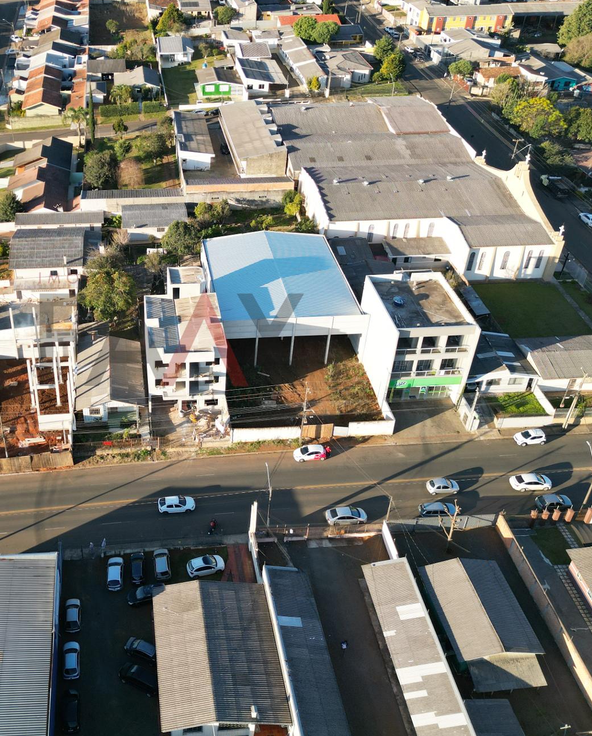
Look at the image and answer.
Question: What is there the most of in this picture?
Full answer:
The largest share of the image is taken up by buildings.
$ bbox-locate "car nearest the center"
[292,444,330,463]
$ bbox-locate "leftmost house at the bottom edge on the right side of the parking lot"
[153,576,292,736]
